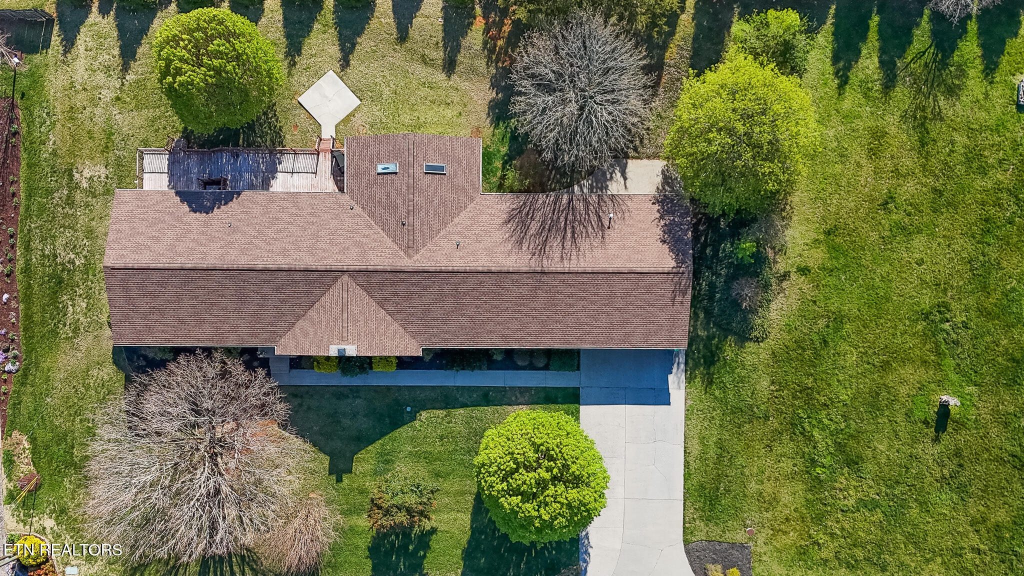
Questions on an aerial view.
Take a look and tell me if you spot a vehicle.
No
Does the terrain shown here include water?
No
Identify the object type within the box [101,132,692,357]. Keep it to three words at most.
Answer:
house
